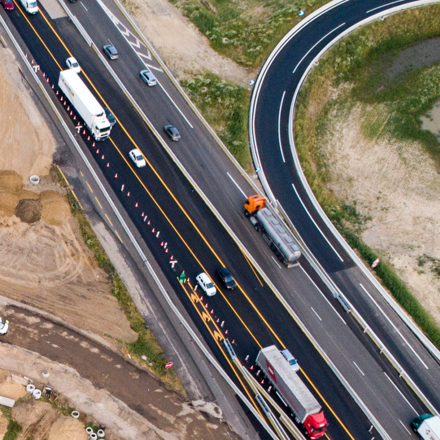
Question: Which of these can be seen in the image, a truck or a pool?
truck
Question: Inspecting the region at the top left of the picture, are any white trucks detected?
Yes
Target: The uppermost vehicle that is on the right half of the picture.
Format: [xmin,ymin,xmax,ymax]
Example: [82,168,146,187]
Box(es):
[247,195,303,266]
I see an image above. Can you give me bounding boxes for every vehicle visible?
[102,45,120,63]
[247,195,303,266]
[139,71,159,89]
[64,56,82,74]
[255,345,330,440]
[162,125,183,144]
[216,269,238,293]
[194,273,217,299]
[128,150,147,170]
[0,315,10,335]
[103,106,118,128]
[0,0,14,11]
[16,0,37,18]
[58,67,113,143]
[280,347,302,374]
[407,408,440,440]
